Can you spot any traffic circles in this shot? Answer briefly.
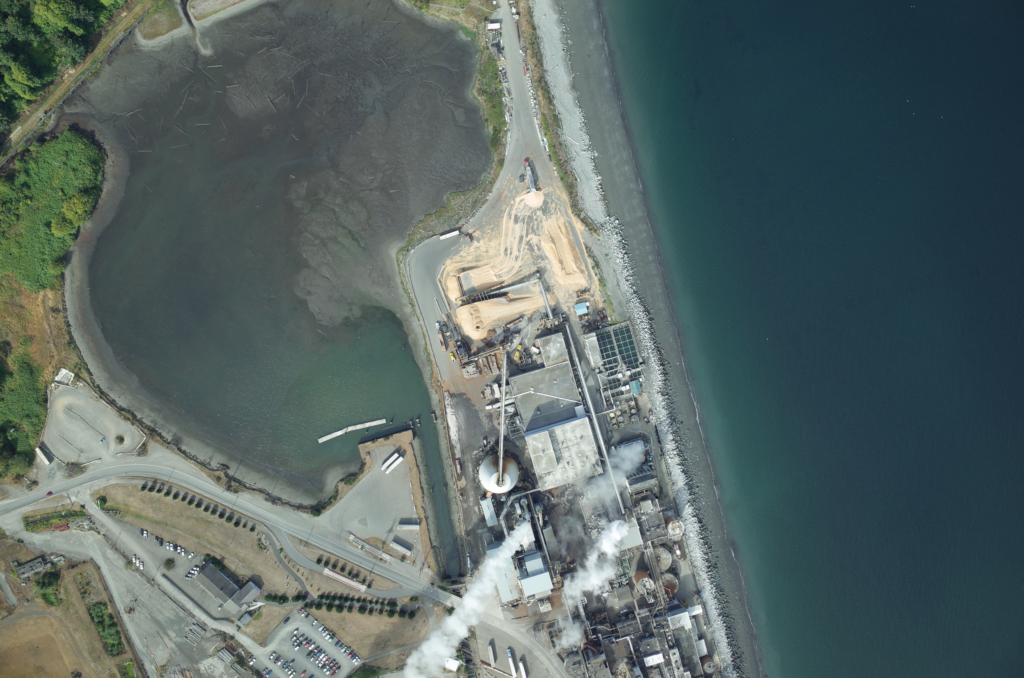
No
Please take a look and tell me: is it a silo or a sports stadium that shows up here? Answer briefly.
silo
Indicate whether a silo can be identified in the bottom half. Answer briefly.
Yes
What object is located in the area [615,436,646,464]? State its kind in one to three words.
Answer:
cooling tower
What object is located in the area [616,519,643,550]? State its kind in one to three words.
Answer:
building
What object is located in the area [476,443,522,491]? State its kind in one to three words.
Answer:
silo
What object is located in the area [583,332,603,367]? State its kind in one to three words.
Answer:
house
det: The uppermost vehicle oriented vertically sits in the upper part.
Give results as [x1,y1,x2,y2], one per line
[524,155,538,191]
